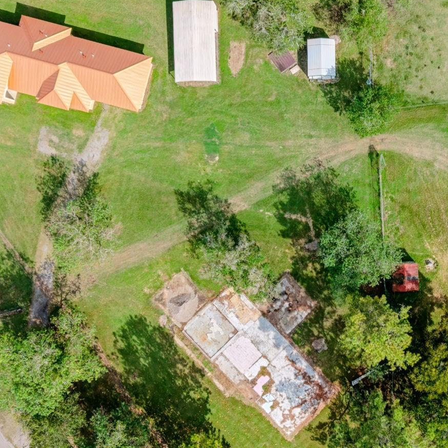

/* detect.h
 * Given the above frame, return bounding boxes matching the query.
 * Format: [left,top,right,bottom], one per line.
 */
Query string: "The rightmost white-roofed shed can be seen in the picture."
[308,38,336,82]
